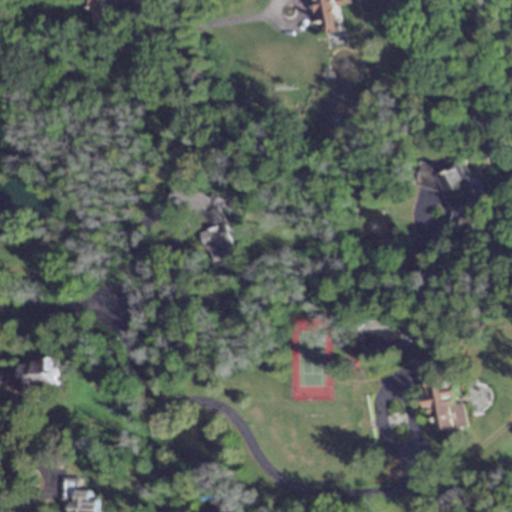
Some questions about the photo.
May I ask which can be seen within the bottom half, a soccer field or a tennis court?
tennis court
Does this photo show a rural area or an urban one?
rural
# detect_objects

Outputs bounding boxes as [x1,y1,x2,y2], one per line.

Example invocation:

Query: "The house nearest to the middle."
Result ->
[202,203,236,262]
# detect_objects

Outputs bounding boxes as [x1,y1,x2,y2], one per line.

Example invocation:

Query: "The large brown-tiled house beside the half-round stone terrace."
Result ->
[422,381,472,430]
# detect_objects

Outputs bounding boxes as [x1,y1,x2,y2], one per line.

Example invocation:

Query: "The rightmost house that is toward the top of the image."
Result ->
[417,162,472,196]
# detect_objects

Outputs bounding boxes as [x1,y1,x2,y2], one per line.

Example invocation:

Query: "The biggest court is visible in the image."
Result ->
[292,318,334,400]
